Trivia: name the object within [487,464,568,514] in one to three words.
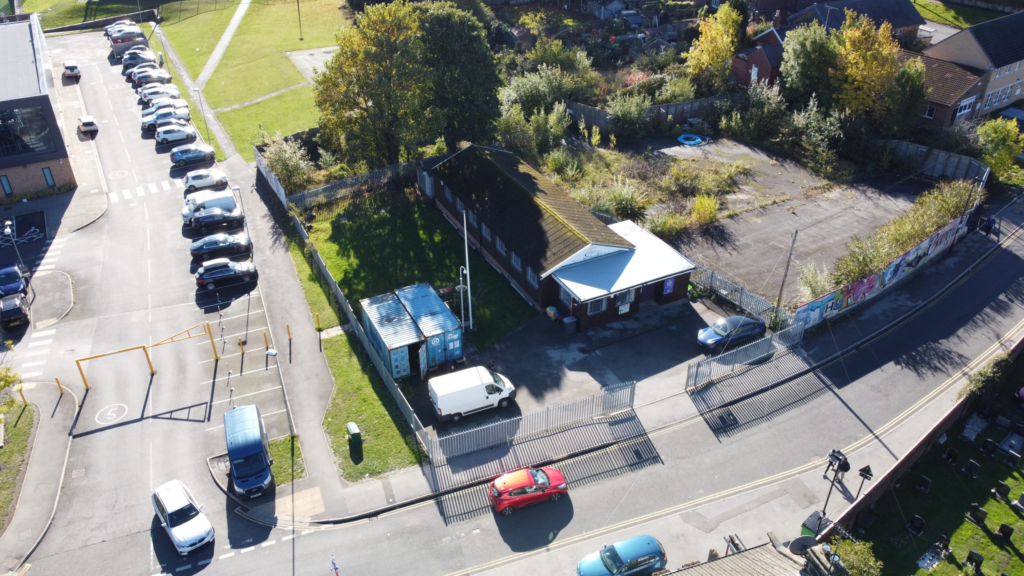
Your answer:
car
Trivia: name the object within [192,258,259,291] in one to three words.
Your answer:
car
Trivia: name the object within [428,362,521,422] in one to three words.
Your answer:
van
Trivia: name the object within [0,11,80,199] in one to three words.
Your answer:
building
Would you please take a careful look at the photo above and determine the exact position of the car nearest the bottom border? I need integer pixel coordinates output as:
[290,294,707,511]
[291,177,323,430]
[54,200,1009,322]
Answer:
[578,526,667,576]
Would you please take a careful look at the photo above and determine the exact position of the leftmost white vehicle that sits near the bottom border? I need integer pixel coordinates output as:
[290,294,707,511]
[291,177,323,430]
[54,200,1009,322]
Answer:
[152,477,216,557]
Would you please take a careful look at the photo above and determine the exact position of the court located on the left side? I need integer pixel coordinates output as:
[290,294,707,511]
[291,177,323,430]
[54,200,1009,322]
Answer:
[286,46,374,85]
